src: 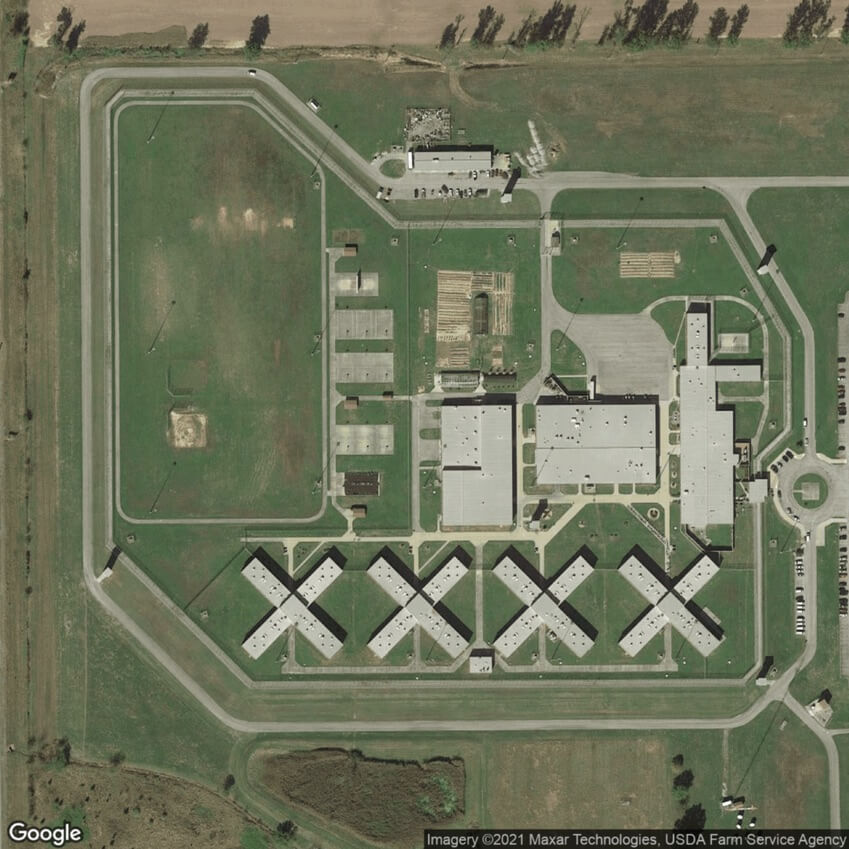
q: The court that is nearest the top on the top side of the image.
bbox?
[335,273,378,296]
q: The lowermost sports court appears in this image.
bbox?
[335,425,394,455]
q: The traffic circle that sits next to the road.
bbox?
[776,454,849,527]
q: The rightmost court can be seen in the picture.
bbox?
[719,334,749,352]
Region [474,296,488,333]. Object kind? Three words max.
building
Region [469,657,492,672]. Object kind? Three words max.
building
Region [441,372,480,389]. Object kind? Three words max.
greenhouse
